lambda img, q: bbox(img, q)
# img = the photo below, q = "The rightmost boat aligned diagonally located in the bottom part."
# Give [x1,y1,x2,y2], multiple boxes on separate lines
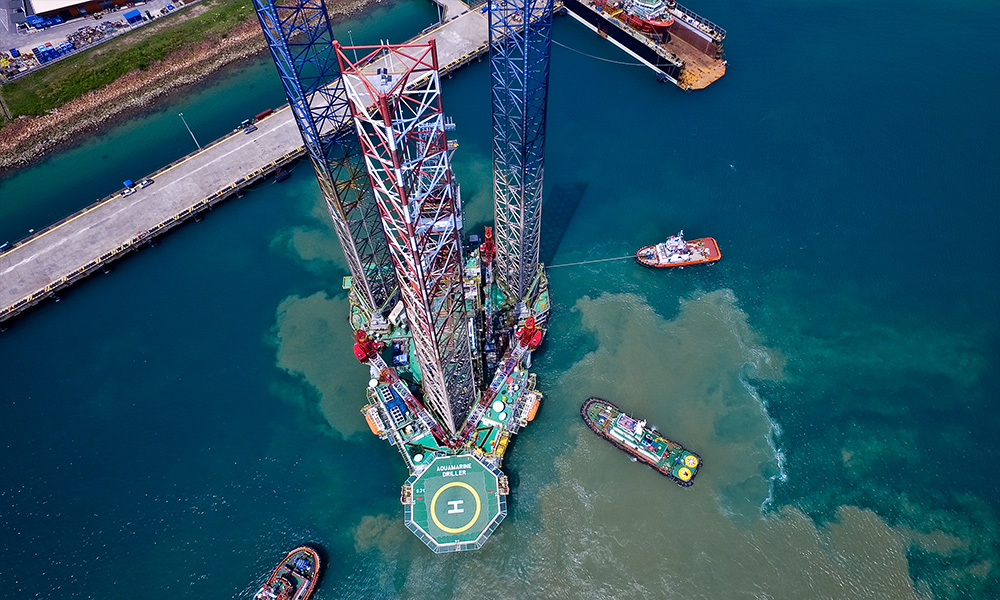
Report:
[580,395,705,487]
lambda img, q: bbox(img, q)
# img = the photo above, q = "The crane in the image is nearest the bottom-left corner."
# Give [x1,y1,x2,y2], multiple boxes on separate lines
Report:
[348,320,448,444]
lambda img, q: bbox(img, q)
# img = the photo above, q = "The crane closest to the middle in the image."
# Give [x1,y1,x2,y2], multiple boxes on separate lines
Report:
[476,236,500,360]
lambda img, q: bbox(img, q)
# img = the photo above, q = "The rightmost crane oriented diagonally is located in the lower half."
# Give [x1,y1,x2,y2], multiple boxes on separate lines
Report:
[460,307,546,445]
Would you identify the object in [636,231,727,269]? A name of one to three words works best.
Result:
boat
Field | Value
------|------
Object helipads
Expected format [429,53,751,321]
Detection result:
[401,448,509,553]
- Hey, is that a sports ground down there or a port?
port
